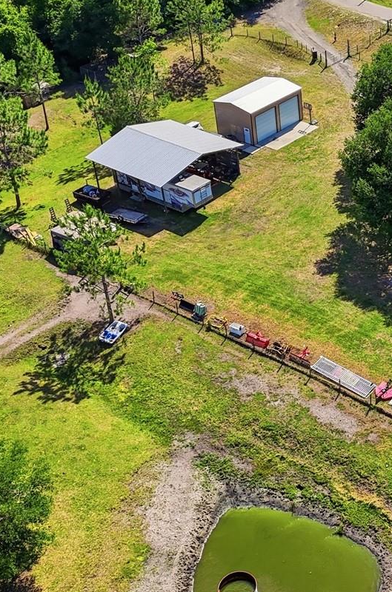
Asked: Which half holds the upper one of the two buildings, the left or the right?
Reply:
right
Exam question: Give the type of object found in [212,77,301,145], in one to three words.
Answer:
building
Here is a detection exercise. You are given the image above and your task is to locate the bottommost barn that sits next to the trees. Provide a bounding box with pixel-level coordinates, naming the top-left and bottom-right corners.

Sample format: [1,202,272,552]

[86,120,243,221]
